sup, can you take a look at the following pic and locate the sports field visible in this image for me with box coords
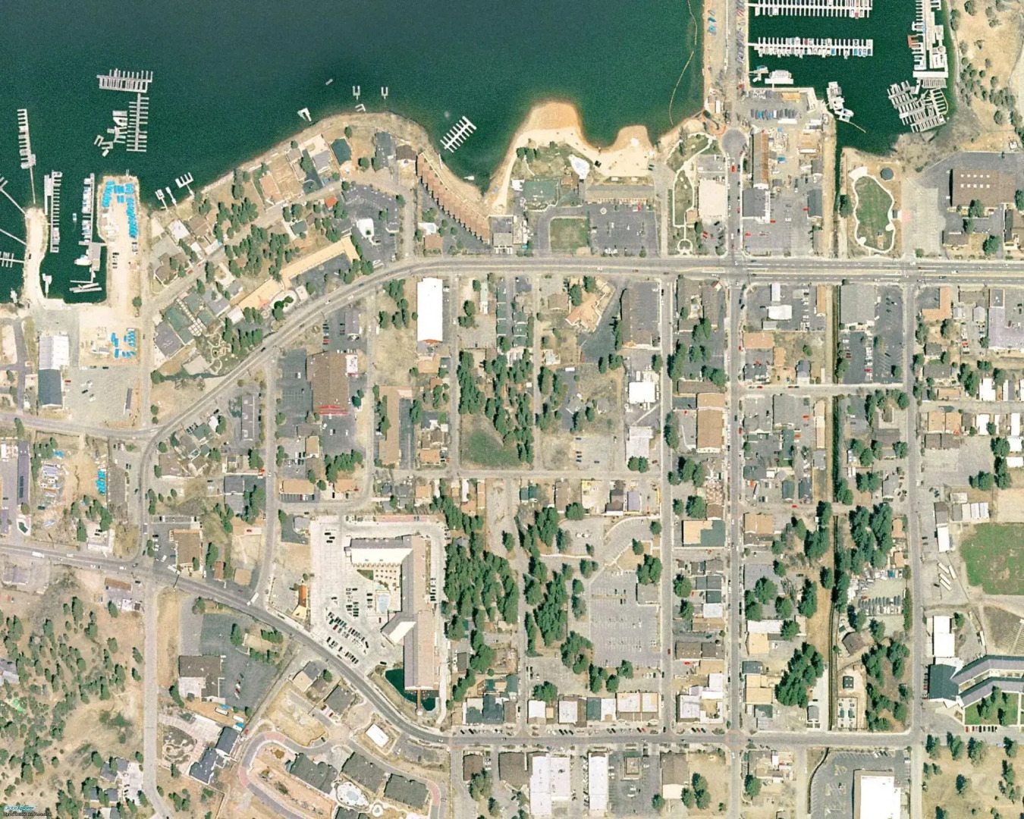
[961,522,1024,596]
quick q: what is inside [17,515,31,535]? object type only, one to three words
swimming pool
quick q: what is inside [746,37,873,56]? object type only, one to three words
pier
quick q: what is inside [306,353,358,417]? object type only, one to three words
building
